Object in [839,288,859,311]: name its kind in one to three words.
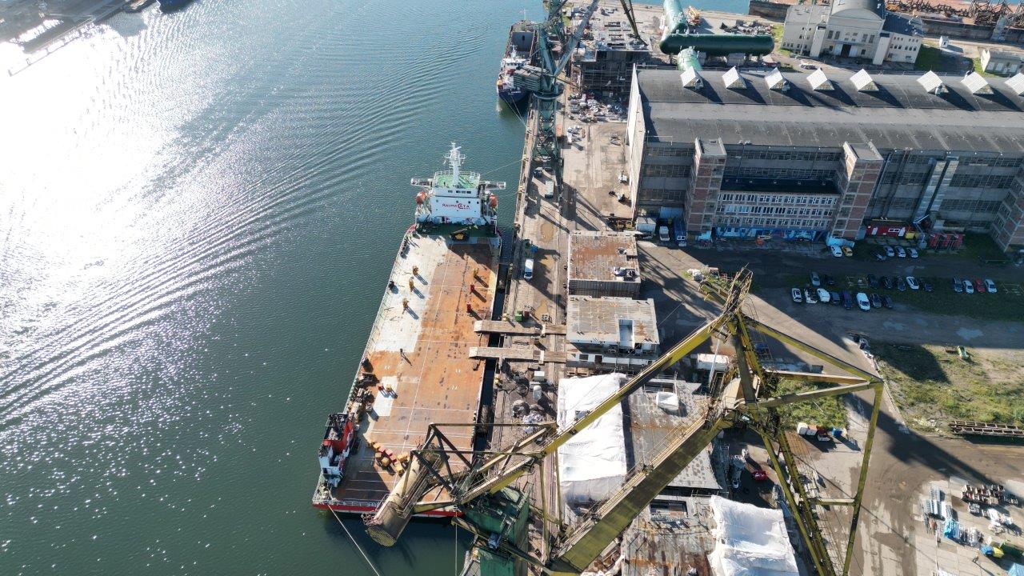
vehicle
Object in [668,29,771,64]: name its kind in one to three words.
storage tank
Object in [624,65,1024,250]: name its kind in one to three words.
building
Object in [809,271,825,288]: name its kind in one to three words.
car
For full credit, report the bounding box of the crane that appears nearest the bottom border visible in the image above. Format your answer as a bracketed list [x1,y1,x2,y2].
[358,250,887,576]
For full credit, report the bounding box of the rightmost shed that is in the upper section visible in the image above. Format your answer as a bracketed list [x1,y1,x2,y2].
[977,44,1024,76]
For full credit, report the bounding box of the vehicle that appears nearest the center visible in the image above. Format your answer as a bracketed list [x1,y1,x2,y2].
[522,258,536,283]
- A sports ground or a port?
port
